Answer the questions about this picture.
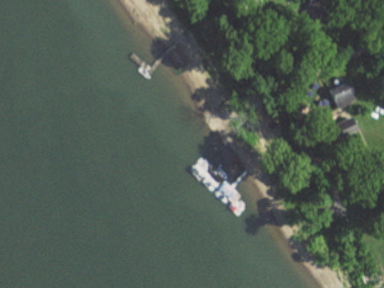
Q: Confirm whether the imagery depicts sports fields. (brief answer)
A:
No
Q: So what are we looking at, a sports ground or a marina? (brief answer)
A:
marina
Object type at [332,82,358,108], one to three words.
house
